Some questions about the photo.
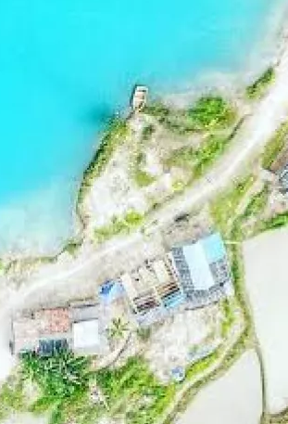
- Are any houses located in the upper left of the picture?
No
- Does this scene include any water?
Yes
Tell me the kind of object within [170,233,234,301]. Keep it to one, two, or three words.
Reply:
house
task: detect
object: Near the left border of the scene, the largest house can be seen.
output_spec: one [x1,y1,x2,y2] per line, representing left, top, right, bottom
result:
[13,305,70,356]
